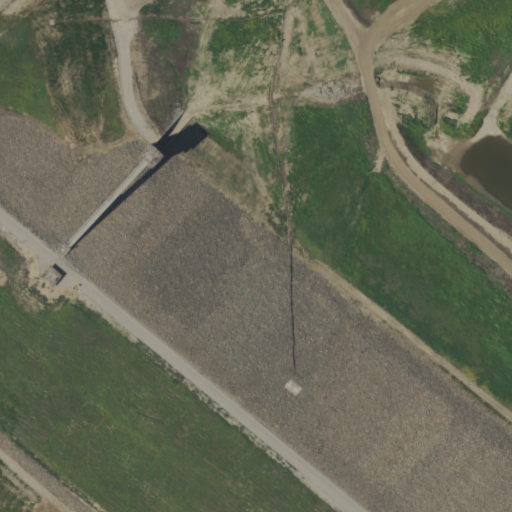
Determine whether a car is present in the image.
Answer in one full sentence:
No, I can't see a single car in this photo.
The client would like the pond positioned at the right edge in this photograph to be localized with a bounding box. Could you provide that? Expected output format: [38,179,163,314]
[458,135,512,217]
